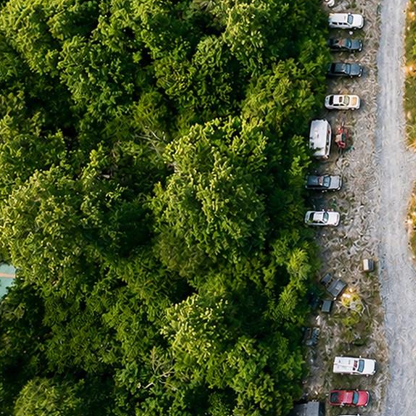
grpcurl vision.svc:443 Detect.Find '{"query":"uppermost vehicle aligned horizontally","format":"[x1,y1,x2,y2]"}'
[328,12,365,29]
